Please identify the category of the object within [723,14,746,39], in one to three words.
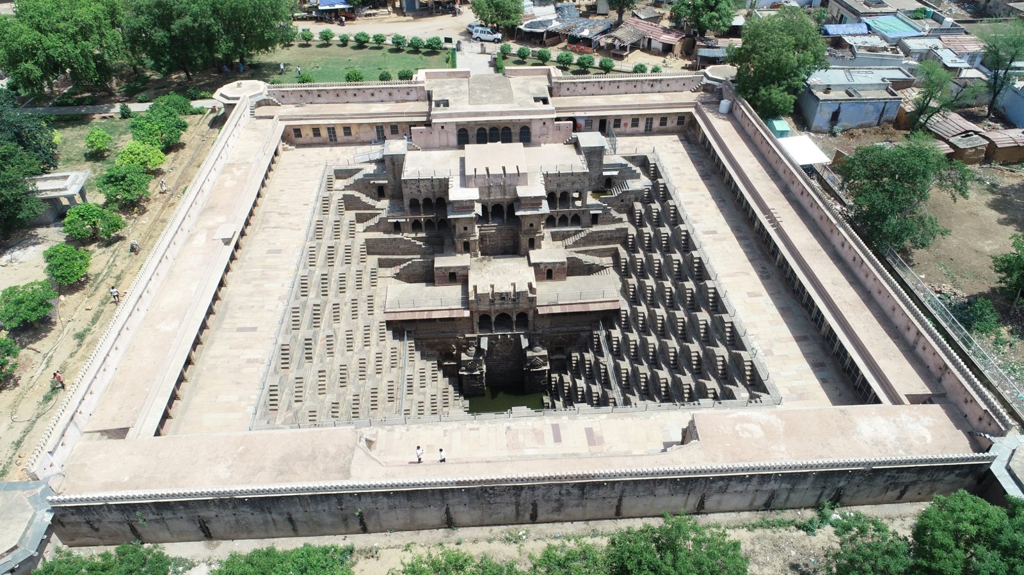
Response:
shed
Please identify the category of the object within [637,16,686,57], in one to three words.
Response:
shed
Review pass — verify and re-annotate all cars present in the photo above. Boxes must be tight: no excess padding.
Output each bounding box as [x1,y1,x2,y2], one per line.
[473,24,506,41]
[464,21,487,31]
